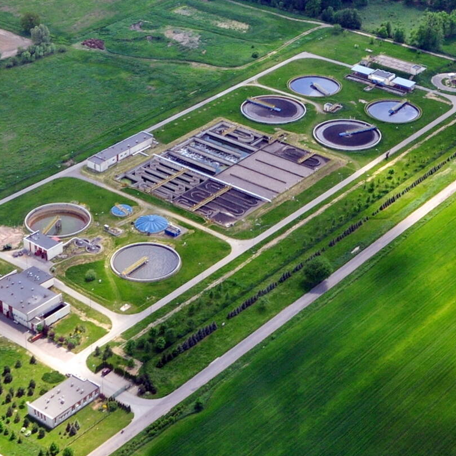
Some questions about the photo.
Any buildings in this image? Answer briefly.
Yes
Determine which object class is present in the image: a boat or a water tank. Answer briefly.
water tank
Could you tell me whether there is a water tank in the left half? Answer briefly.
Yes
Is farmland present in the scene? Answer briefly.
Yes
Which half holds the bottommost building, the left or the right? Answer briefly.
left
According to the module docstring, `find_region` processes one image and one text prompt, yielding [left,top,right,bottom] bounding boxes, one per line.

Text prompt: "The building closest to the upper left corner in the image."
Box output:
[88,130,155,172]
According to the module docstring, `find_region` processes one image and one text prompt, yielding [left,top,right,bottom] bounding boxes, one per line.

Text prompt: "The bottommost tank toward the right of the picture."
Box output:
[312,119,382,153]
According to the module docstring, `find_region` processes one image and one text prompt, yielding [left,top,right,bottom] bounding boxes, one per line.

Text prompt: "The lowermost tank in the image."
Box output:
[110,243,181,284]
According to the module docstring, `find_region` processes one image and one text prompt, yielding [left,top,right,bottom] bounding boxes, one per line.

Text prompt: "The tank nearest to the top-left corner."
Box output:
[23,203,92,240]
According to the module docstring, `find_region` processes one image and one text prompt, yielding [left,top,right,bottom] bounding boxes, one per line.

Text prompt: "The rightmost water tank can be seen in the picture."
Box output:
[365,100,423,125]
